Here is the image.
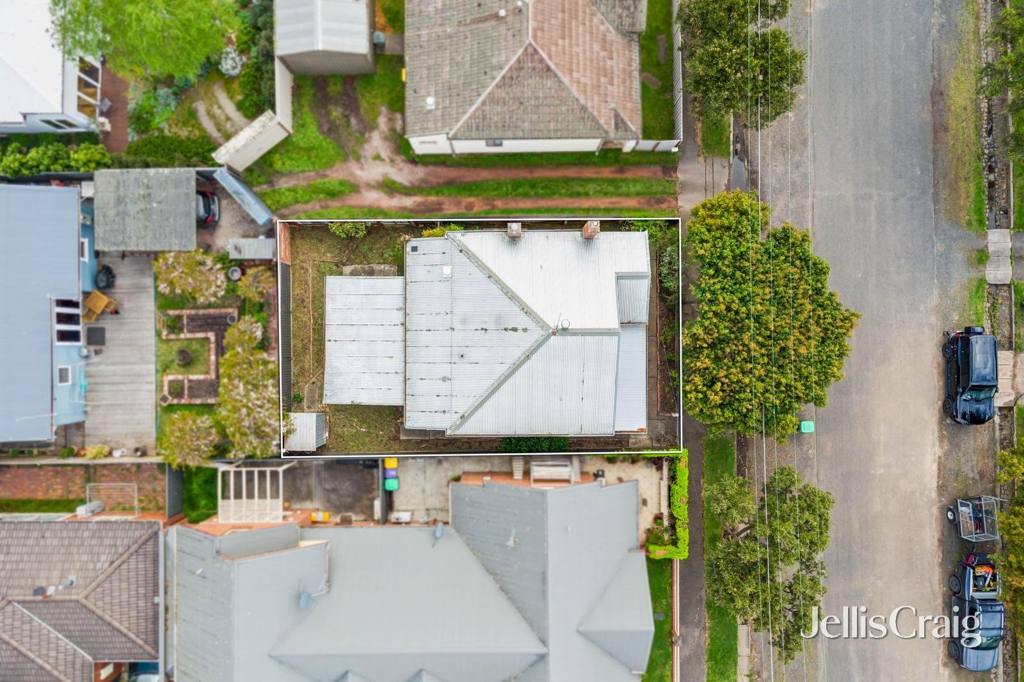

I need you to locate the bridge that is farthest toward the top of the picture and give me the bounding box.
[985,229,1012,283]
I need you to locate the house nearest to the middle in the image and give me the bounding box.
[322,219,653,439]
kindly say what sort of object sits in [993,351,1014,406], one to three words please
bridge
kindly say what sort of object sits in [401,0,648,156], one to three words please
house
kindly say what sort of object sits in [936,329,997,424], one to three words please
car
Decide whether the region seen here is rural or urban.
urban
